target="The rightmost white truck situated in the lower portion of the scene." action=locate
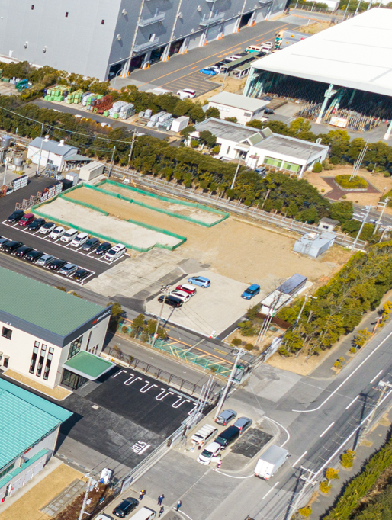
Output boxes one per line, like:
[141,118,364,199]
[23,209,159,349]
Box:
[250,441,292,480]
